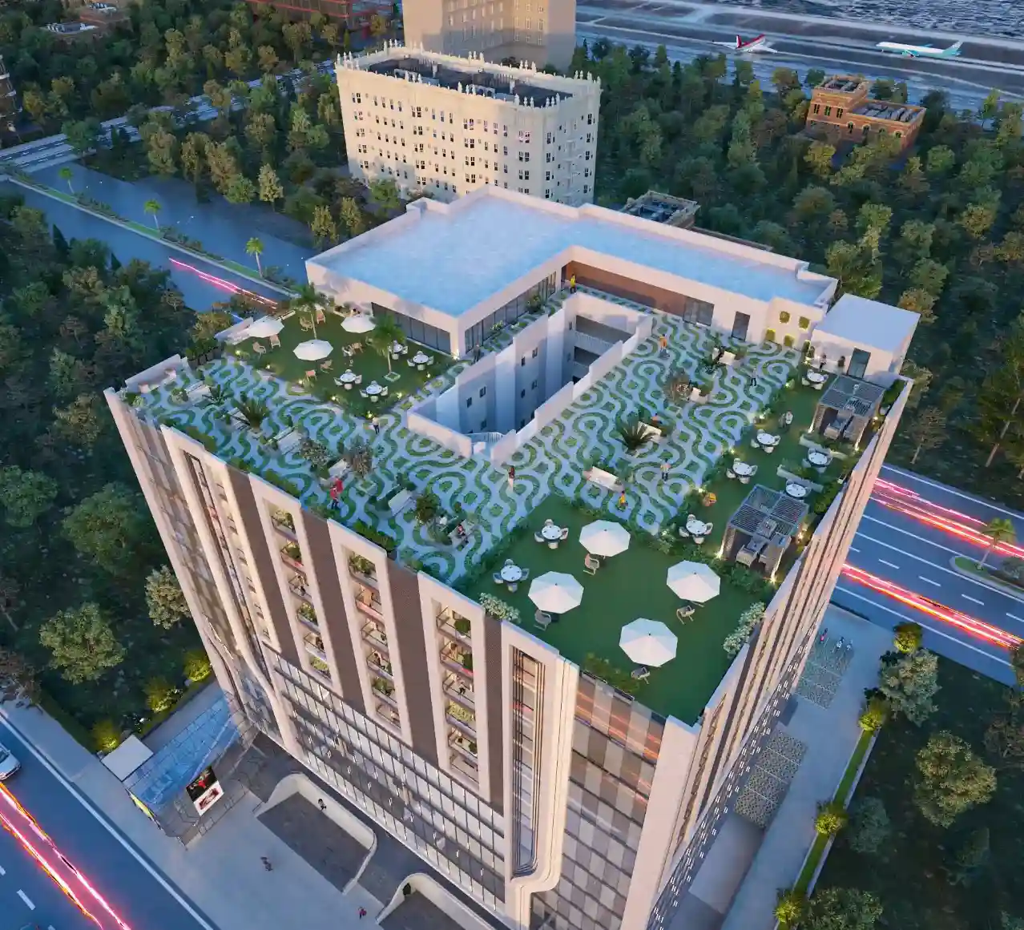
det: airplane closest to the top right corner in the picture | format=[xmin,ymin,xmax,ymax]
[876,35,967,61]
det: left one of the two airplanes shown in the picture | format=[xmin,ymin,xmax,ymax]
[711,32,782,55]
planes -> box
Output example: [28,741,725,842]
[876,35,967,61]
[711,32,782,55]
